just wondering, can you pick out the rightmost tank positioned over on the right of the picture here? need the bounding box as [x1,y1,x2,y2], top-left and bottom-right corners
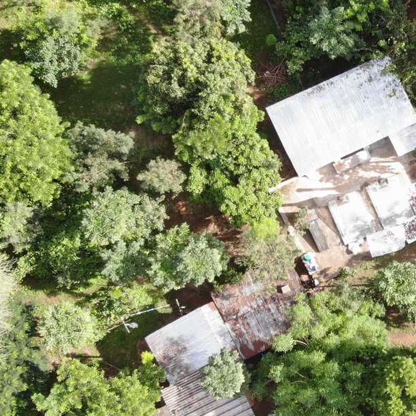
[367,175,416,230]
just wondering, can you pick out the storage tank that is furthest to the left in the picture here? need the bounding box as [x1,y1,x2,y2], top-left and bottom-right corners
[328,190,376,245]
